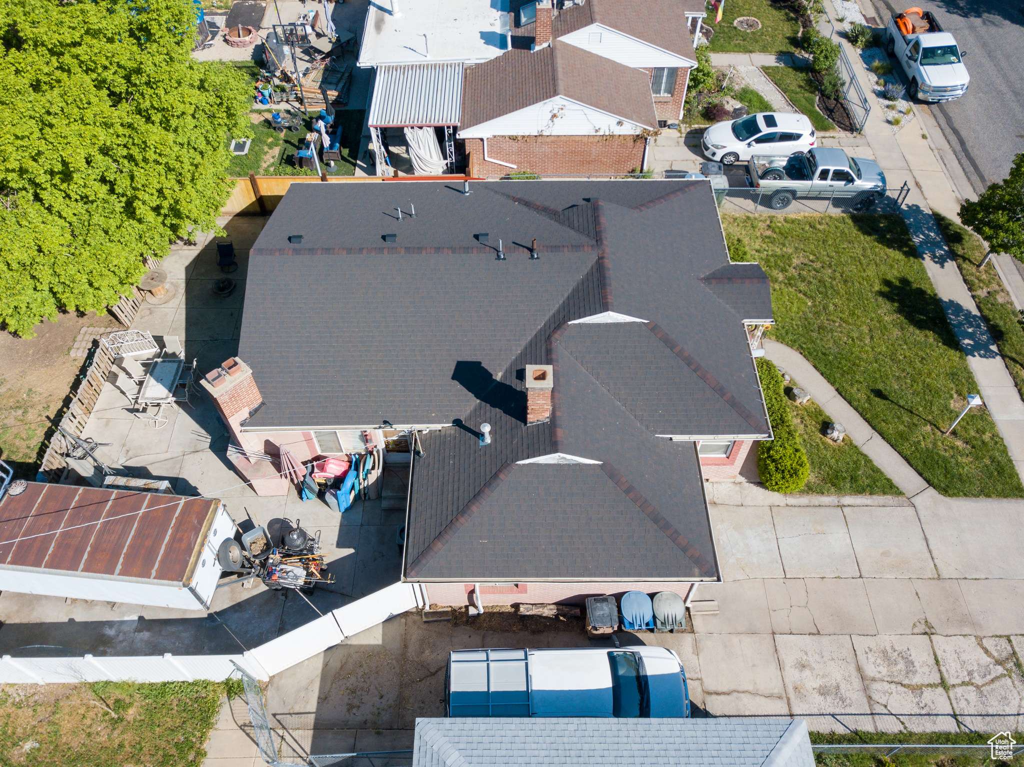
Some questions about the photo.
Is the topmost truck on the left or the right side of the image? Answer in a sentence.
The topmost truck sits on the right side.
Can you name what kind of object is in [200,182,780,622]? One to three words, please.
house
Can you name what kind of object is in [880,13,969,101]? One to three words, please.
truck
